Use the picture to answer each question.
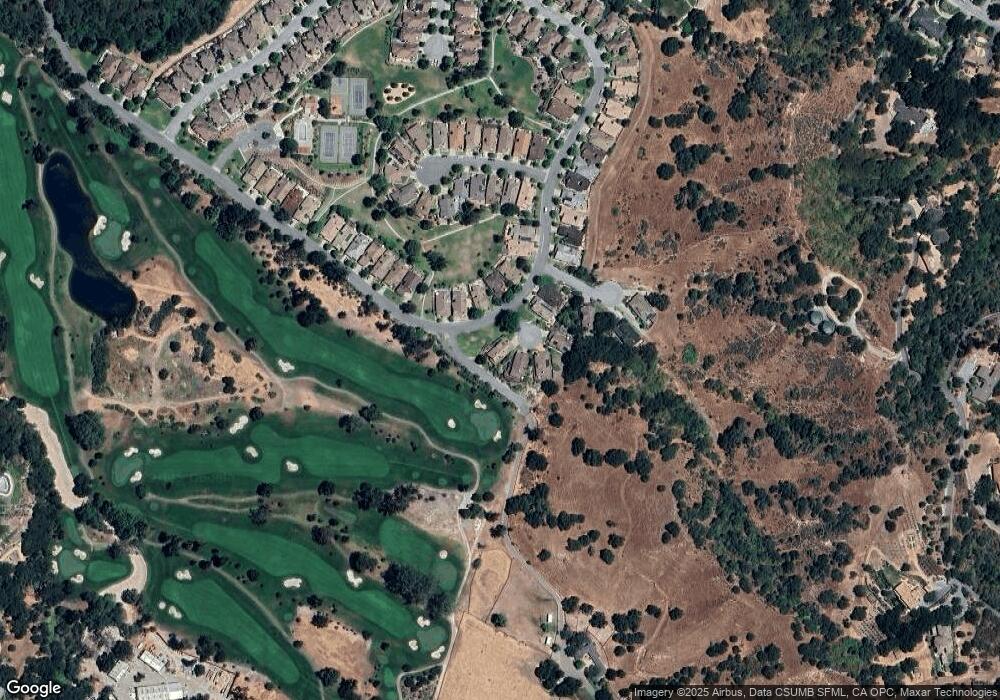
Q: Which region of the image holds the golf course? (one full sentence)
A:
The golf course is in the left part of the image.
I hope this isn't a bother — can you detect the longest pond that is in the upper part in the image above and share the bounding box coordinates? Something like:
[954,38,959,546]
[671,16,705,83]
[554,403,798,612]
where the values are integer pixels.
[43,151,137,323]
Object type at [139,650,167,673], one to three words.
shed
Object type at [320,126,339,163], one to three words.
tennis court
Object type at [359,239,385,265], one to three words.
house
